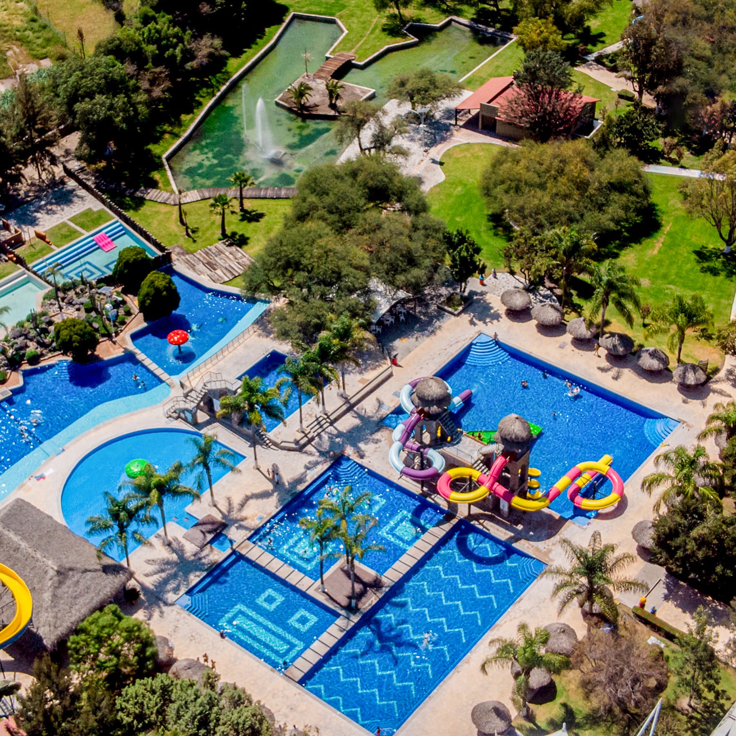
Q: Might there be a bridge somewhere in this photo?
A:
Yes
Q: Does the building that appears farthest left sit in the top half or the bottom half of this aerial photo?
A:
bottom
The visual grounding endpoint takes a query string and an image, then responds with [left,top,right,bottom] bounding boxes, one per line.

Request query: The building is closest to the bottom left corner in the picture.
[0,497,133,658]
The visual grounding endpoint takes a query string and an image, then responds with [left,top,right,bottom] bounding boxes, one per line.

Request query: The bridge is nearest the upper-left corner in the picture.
[314,52,356,80]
